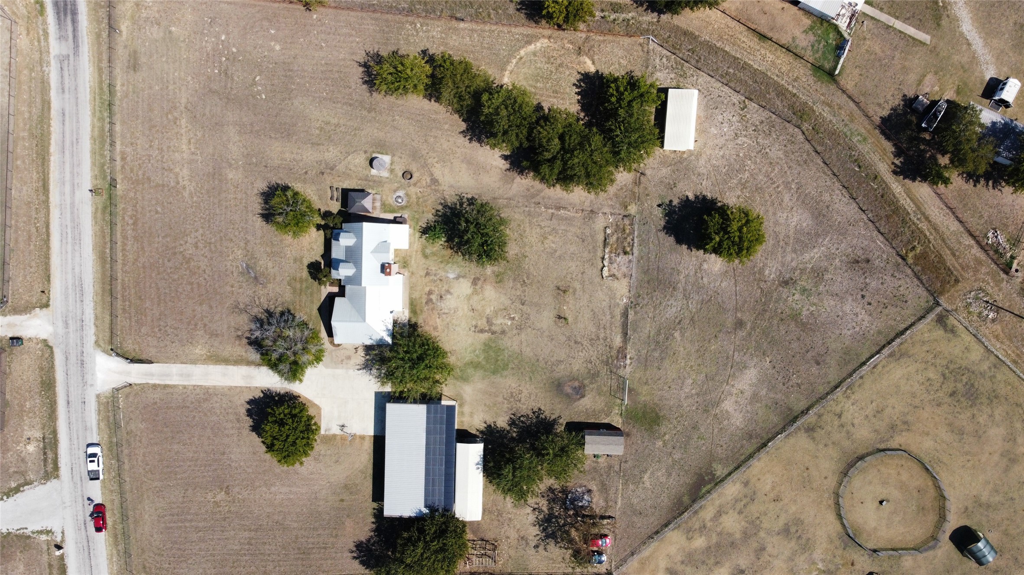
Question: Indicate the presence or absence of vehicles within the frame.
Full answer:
Yes, the picture does show a vehicle.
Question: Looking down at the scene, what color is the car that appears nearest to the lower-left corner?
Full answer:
The car that appears nearest to the lower-left corner looks red in the image.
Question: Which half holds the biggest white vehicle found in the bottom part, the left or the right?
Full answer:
You can find the biggest white vehicle found in the bottom part on the left side of the picture.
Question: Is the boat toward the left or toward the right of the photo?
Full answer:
The boat appears in the right half of the scene.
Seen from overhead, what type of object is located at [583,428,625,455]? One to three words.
shed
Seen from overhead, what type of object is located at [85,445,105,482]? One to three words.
vehicle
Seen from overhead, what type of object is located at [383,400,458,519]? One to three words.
building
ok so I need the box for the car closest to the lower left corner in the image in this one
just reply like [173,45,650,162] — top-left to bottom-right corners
[88,503,109,534]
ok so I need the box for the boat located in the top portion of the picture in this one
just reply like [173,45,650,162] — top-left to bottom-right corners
[924,101,946,130]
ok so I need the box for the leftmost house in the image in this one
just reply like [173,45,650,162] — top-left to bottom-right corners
[330,221,411,345]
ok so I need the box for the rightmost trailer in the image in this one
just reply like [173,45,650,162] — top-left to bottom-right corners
[988,74,1024,113]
